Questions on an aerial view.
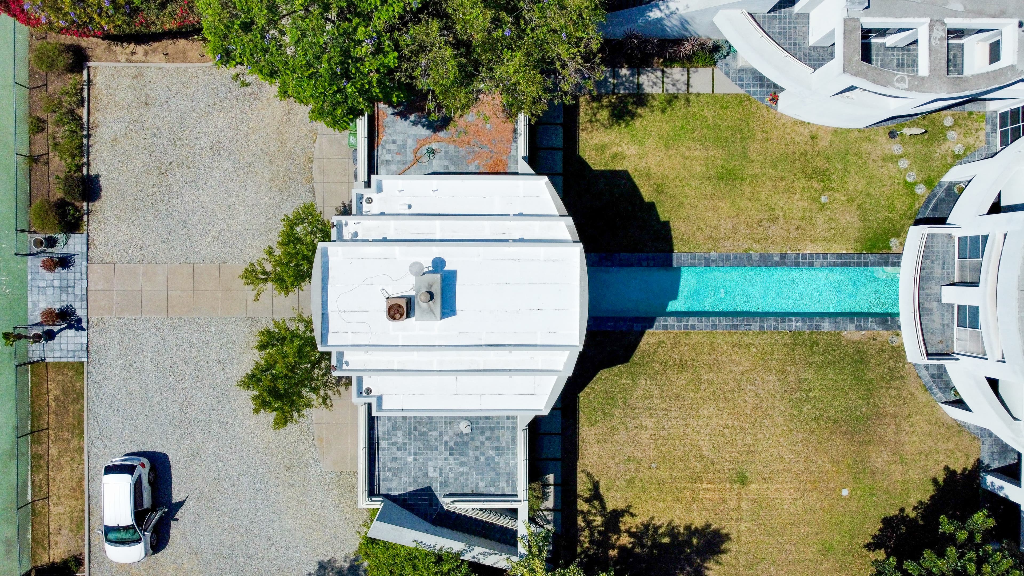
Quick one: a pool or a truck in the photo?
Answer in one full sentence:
Looking from above, you can make out a pool.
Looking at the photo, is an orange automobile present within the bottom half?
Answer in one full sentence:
No, looking within the bottom half, there is no orange automobile.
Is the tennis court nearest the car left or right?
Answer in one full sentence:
The tennis court nearest the car is on the left side of the image.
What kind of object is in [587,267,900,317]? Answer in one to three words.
swimming pool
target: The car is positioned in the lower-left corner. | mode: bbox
[98,454,167,564]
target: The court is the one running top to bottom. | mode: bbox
[0,0,31,576]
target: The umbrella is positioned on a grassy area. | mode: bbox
[888,127,926,139]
